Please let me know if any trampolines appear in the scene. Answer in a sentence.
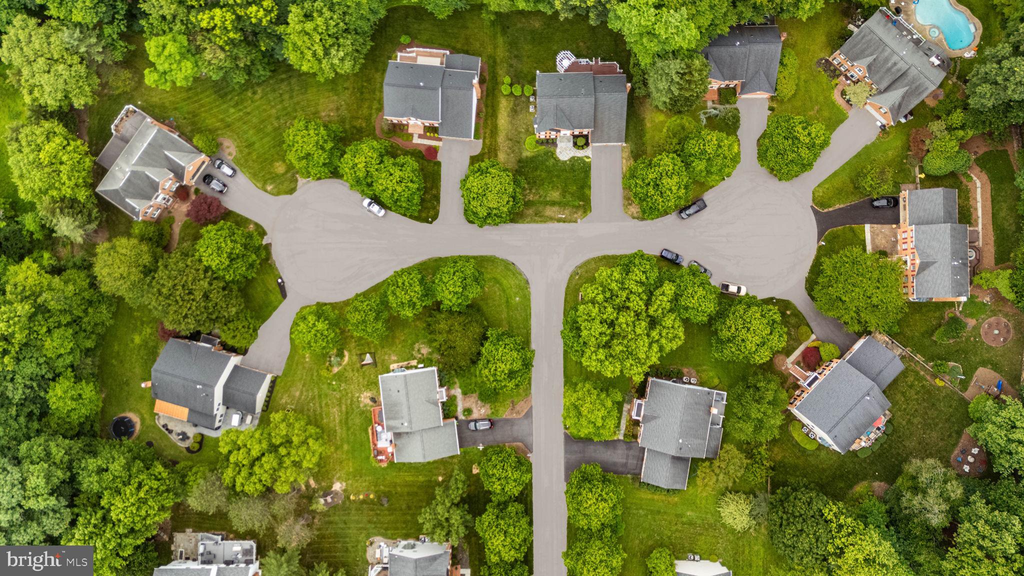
Yes, you can see a trampoline in this photo.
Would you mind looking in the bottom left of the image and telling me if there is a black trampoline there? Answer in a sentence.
Yes, a black trampoline is visible in the bottom left of the image.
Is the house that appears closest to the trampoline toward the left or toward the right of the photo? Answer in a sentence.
You can find the house that appears closest to the trampoline on the left side of the picture.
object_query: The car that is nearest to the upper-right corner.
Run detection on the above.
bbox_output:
[873,195,899,207]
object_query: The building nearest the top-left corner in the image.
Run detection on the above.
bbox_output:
[96,104,210,222]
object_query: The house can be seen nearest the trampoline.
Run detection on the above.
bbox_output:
[140,334,274,430]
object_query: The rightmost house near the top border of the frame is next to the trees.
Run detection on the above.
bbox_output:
[830,5,952,128]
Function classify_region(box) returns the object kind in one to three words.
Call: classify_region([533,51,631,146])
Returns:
house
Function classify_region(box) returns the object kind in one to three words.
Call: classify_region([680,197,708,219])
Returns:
truck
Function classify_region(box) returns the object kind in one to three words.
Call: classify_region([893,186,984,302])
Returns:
house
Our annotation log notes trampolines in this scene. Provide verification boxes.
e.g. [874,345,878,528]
[101,417,134,442]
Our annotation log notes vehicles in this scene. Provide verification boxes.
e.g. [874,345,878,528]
[468,420,492,431]
[201,174,226,193]
[659,248,684,264]
[210,157,235,177]
[361,198,384,217]
[687,259,712,277]
[873,195,899,207]
[680,197,708,219]
[720,283,748,295]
